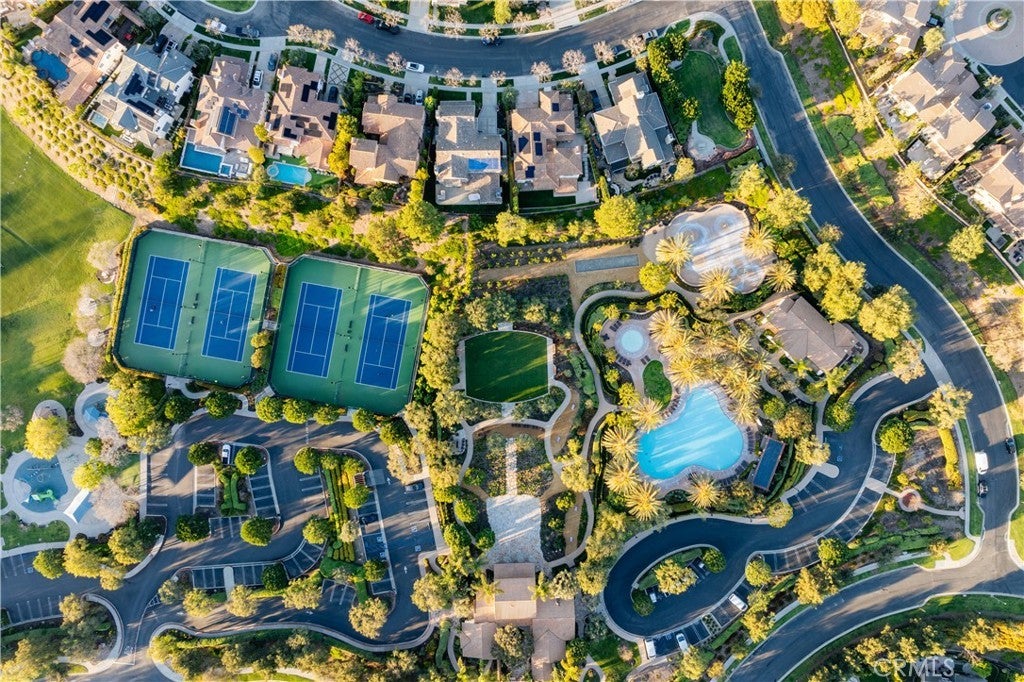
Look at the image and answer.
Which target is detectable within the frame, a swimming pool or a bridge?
swimming pool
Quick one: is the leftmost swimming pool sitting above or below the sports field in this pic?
above it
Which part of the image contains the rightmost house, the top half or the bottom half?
top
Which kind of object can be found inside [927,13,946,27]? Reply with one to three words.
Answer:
car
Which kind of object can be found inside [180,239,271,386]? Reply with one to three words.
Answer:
tennis court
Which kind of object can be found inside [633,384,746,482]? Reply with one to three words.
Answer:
swimming pool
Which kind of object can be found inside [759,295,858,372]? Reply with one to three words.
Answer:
building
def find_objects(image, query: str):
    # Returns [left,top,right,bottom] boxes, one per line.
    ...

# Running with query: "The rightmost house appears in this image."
[960,121,1024,239]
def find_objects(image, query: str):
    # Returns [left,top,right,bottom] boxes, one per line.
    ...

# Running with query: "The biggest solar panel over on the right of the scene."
[756,439,781,488]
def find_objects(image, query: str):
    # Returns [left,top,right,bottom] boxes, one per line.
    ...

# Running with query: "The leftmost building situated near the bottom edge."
[461,559,576,682]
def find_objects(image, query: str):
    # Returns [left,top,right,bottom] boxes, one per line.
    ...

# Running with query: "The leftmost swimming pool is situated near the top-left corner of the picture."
[30,48,68,81]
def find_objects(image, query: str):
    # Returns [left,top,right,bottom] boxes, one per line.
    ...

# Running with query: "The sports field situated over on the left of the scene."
[0,106,134,459]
